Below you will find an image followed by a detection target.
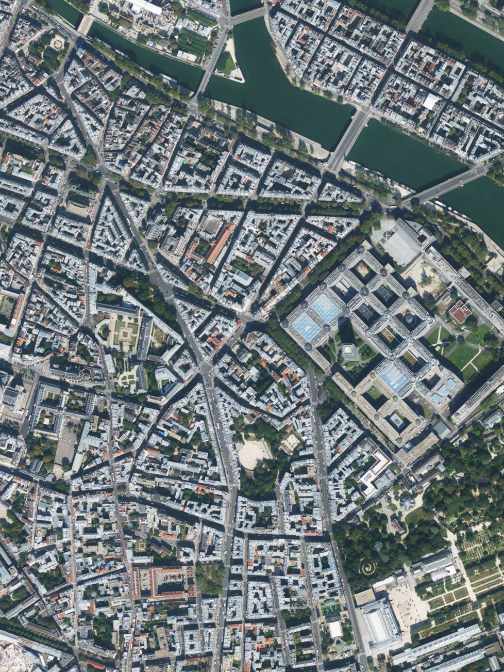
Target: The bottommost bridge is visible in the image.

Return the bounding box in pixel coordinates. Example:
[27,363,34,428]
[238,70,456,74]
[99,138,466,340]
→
[399,158,495,210]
